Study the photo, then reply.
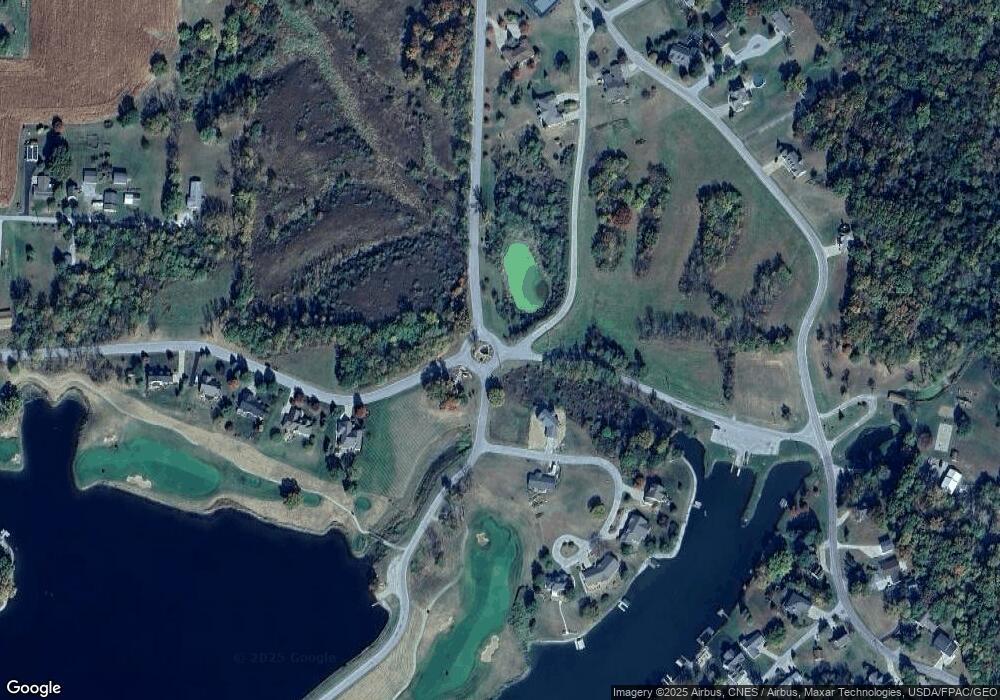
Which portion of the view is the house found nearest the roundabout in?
center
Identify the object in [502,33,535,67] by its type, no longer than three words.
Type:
house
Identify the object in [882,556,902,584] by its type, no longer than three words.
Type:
house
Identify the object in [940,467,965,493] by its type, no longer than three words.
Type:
building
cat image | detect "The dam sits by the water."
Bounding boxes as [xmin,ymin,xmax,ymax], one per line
[305,598,424,700]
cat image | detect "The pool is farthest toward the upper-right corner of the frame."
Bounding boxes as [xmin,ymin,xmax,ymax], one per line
[752,73,767,88]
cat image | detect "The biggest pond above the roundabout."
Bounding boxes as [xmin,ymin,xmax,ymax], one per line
[505,242,549,312]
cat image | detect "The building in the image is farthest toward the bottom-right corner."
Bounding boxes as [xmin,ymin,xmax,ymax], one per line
[931,627,961,658]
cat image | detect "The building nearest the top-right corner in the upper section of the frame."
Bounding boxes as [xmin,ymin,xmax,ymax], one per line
[771,8,795,33]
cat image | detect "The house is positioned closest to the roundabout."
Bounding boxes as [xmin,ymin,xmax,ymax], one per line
[536,407,559,438]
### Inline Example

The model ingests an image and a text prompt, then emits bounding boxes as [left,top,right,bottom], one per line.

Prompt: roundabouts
[425,322,541,388]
